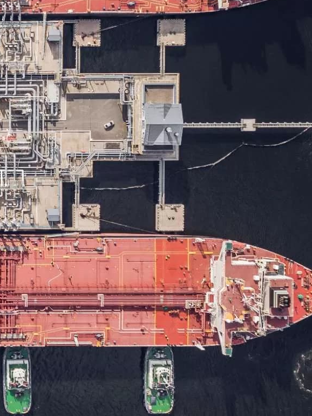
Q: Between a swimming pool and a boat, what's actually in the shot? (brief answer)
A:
boat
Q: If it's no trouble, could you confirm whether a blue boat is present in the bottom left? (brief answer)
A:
No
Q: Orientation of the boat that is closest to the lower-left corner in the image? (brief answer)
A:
up and down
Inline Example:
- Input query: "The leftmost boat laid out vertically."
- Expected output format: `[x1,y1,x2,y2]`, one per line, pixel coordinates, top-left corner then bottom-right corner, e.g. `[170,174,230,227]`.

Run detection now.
[2,346,32,415]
